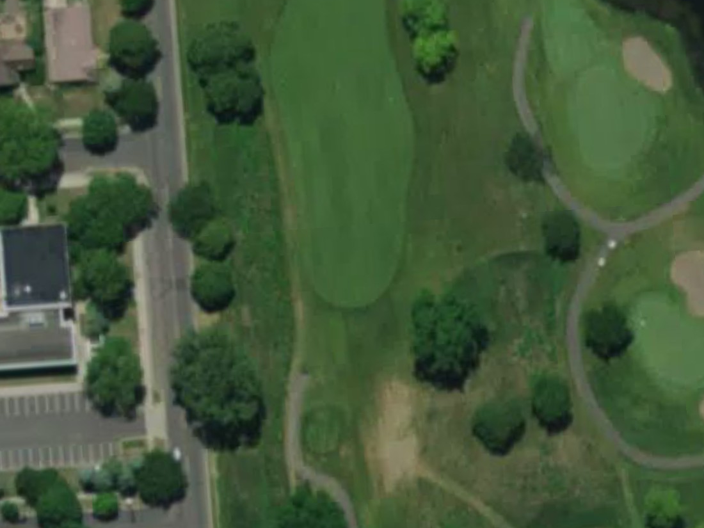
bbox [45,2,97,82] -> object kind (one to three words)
house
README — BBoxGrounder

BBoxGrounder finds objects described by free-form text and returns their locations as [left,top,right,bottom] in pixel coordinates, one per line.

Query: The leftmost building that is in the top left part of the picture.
[0,42,34,86]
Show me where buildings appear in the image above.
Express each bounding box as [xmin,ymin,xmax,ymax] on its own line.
[0,226,76,368]
[45,2,97,82]
[0,42,34,86]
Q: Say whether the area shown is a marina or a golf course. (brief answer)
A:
golf course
